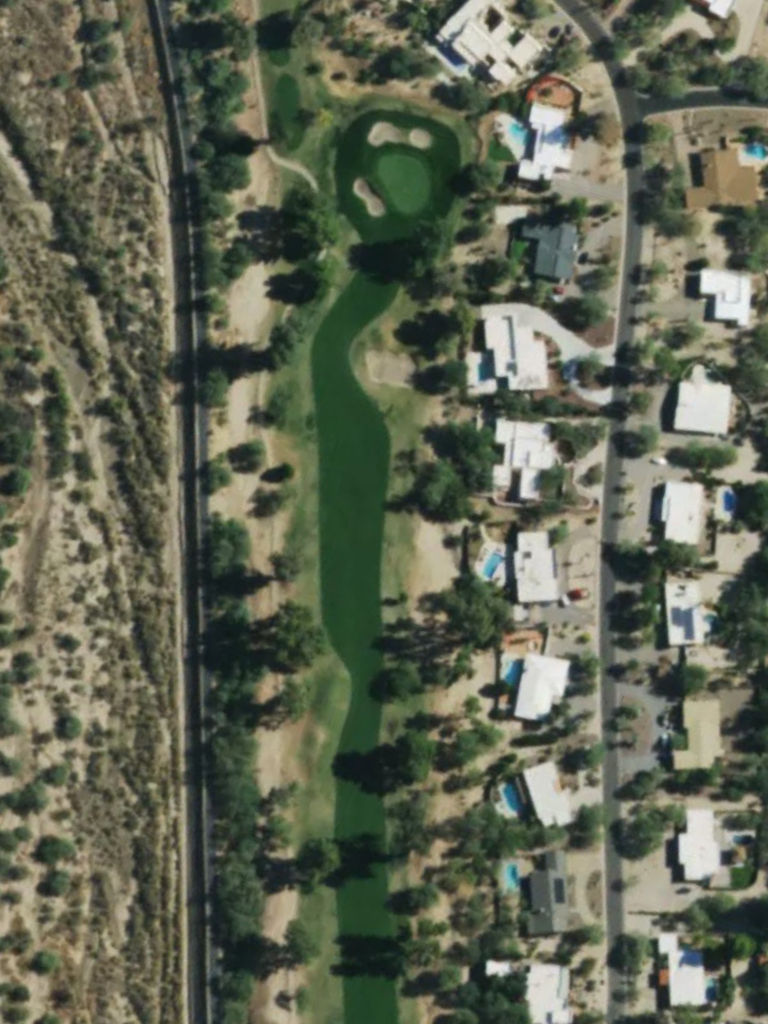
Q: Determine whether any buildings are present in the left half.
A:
No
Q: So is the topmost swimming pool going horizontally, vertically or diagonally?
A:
diagonally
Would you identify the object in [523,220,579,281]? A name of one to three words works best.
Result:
house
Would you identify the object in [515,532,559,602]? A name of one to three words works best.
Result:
house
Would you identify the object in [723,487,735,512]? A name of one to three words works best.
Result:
swimming pool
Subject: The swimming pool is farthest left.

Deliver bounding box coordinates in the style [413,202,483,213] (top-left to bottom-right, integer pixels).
[439,45,467,70]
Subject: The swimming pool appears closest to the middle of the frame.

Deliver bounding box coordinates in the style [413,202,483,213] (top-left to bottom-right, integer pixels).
[482,552,504,579]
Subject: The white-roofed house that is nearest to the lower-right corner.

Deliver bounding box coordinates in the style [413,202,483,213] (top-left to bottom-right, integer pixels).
[659,933,705,1006]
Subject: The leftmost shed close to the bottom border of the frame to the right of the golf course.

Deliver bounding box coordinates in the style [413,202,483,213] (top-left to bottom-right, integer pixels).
[486,960,510,977]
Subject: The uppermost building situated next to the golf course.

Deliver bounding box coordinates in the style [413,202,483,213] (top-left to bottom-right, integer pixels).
[436,0,542,85]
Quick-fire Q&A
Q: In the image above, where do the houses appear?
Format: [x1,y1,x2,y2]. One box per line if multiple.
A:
[696,0,735,18]
[674,698,723,770]
[527,851,570,937]
[524,762,573,827]
[523,220,579,281]
[526,965,574,1024]
[659,933,705,1006]
[436,0,542,85]
[663,481,704,545]
[485,314,549,390]
[514,653,571,721]
[666,581,708,645]
[700,269,751,325]
[678,809,720,881]
[674,363,731,434]
[518,103,575,180]
[686,146,759,209]
[515,532,559,602]
[492,419,556,499]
